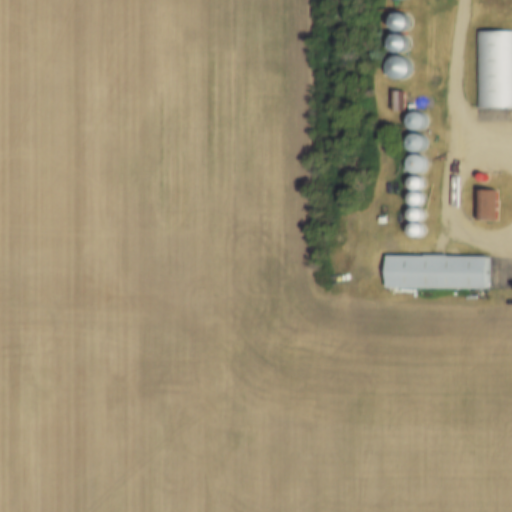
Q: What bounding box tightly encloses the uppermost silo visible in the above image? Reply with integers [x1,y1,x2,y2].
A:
[387,12,414,32]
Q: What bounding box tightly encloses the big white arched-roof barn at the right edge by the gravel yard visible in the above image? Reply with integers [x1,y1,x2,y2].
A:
[478,30,512,108]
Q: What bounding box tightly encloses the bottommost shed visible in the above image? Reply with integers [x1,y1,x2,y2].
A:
[384,254,490,290]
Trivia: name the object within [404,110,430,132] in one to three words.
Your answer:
silo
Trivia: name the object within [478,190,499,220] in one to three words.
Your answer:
building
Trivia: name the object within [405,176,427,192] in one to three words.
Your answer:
silo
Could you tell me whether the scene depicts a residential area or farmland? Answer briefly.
farmland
